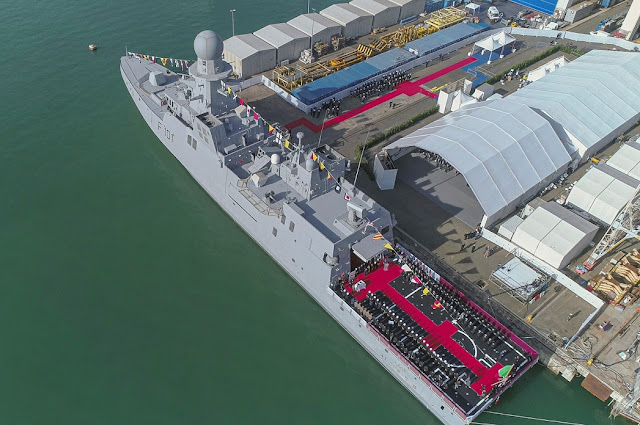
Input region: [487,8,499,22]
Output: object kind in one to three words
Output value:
vehicle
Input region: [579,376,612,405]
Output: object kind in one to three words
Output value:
pier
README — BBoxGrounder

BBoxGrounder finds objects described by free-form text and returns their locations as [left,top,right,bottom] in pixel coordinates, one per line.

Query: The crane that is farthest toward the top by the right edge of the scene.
[570,159,640,278]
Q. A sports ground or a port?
port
